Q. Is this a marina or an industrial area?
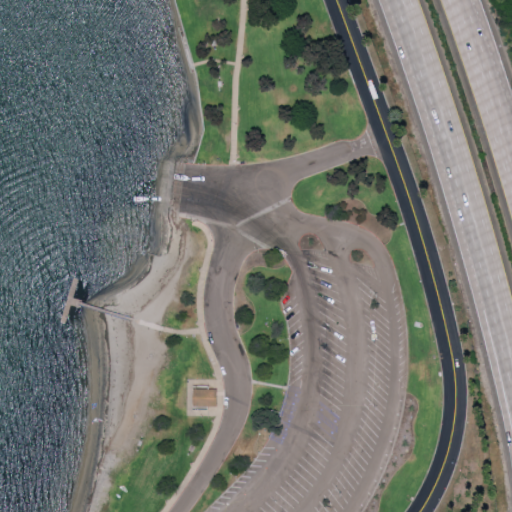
marina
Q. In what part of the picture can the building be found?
bottom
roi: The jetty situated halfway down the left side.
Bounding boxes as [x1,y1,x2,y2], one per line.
[60,278,141,324]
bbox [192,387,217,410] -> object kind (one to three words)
building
